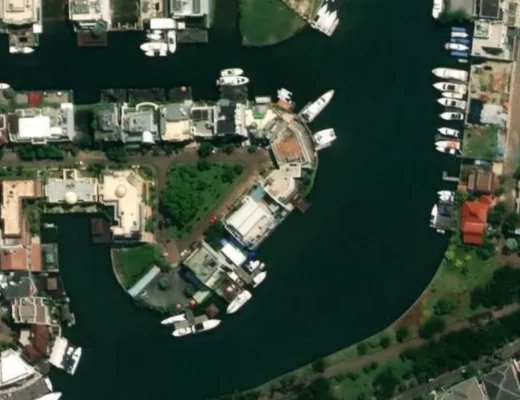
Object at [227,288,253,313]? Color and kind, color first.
white boat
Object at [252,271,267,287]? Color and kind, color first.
white boat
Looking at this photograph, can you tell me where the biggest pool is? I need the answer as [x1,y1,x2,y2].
[468,100,483,123]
